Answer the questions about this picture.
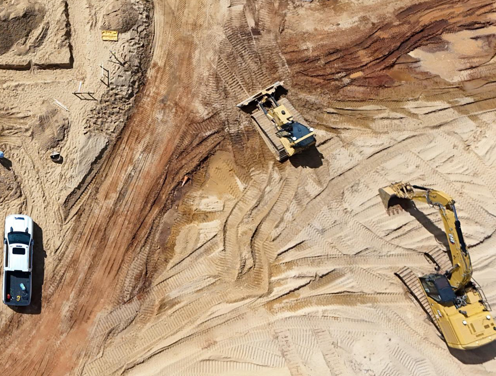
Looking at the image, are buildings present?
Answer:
No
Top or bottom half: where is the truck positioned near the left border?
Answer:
bottom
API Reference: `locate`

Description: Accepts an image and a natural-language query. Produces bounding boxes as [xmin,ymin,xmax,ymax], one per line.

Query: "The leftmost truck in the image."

[2,216,37,314]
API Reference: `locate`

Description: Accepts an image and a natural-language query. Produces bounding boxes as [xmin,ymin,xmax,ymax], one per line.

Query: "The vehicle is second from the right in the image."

[237,80,318,161]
